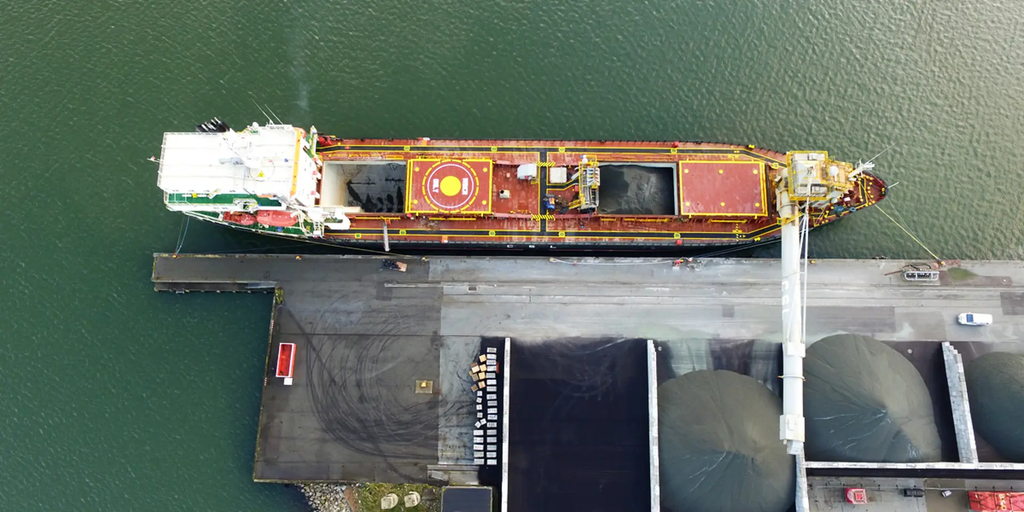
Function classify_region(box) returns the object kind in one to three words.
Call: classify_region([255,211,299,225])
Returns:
boat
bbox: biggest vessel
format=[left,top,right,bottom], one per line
[150,101,905,460]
